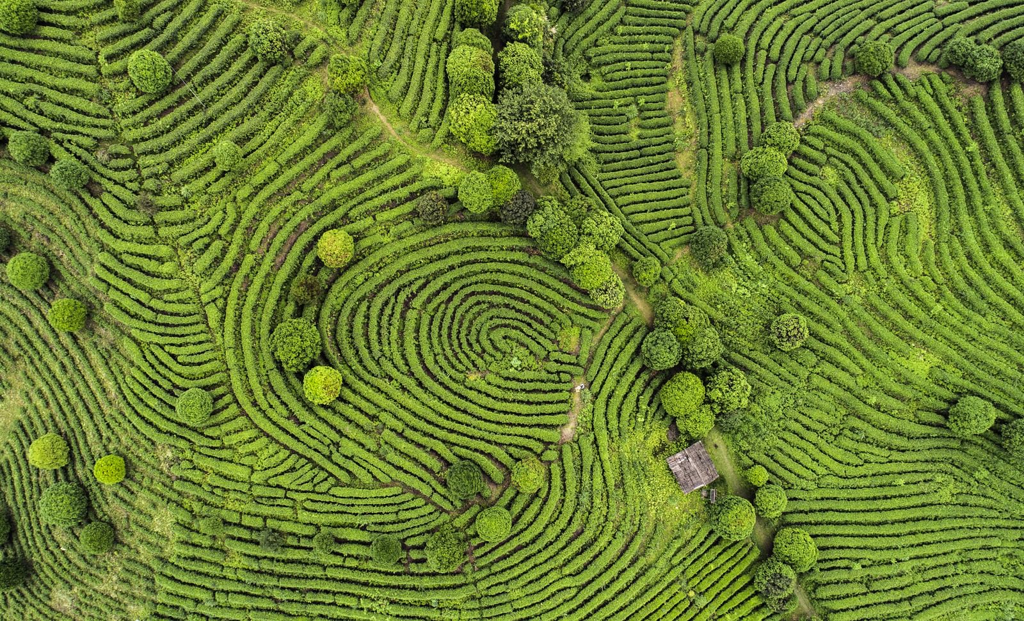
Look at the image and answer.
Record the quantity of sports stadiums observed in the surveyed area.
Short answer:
zero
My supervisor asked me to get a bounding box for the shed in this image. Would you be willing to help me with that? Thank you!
[664,440,720,495]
